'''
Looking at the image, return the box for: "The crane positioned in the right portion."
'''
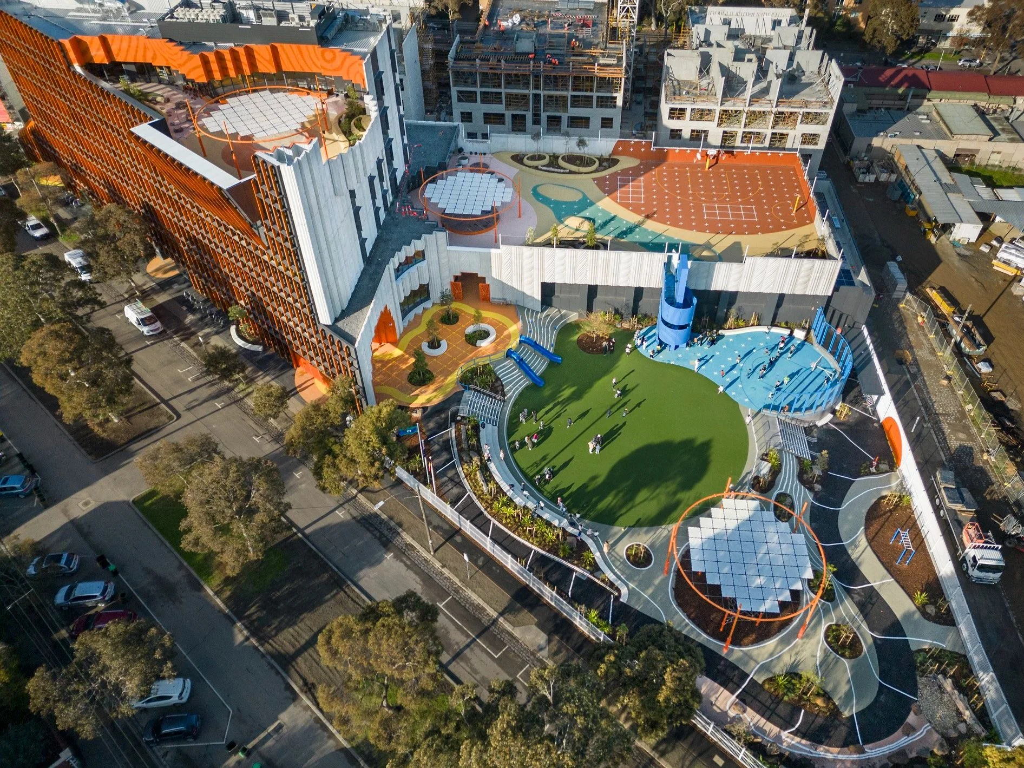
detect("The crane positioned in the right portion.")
[619,0,645,139]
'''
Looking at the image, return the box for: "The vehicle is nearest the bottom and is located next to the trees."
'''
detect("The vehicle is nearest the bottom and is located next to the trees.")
[129,715,213,757]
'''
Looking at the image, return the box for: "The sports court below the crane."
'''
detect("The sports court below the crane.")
[634,324,839,411]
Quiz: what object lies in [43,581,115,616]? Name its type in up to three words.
car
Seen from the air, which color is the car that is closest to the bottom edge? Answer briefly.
black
